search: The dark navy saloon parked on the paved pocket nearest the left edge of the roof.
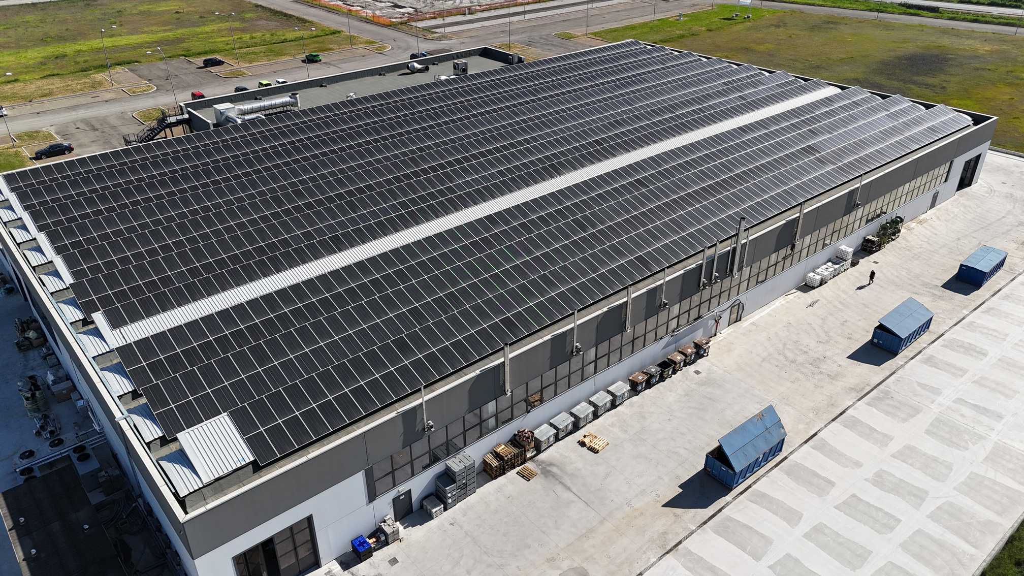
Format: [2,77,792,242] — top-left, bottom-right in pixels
[35,144,74,160]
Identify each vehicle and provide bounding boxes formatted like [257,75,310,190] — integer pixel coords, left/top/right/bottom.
[204,57,229,68]
[407,52,425,59]
[258,80,273,88]
[35,144,74,160]
[420,50,433,56]
[299,52,321,62]
[191,92,207,100]
[234,85,250,92]
[274,76,289,84]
